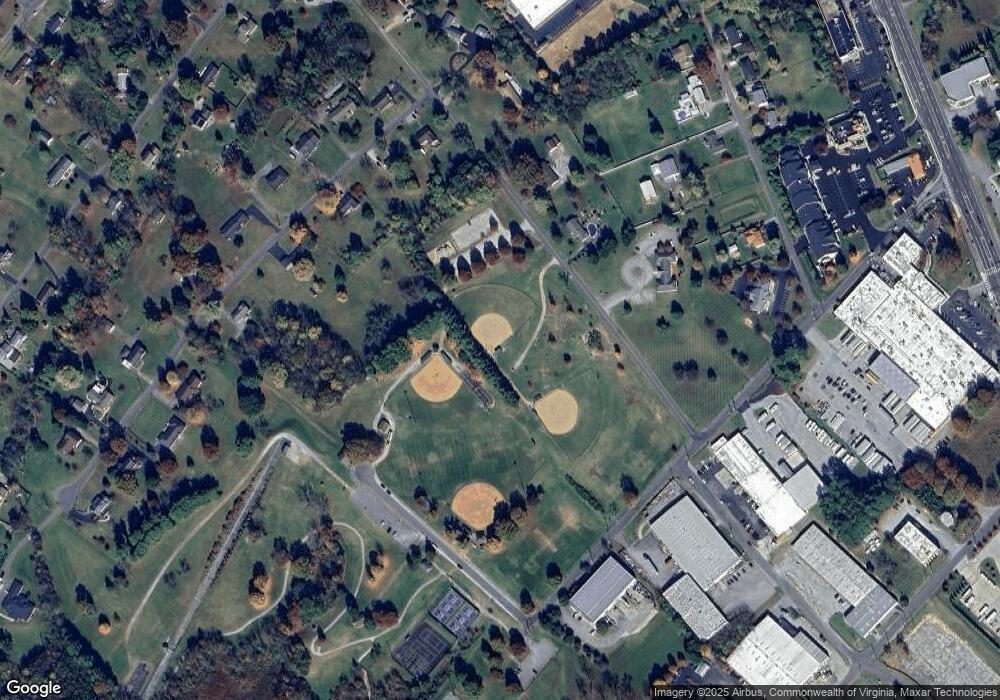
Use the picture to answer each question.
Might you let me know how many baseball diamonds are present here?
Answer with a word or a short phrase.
4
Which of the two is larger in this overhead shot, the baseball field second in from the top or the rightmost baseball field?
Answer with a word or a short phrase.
the rightmost baseball field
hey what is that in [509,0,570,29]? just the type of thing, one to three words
building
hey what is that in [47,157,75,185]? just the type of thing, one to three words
house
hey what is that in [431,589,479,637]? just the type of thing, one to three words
tennis court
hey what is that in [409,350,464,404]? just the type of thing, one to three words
baseball field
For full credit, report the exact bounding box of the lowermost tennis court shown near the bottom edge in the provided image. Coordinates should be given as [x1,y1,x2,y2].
[395,622,449,677]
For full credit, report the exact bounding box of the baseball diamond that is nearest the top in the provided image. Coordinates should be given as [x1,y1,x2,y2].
[453,285,537,355]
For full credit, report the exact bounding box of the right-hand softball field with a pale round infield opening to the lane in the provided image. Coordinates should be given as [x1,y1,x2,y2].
[530,378,606,460]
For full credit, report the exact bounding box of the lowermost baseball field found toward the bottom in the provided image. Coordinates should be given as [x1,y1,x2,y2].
[450,481,505,533]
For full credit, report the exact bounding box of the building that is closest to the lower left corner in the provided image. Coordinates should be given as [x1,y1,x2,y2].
[5,586,34,621]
